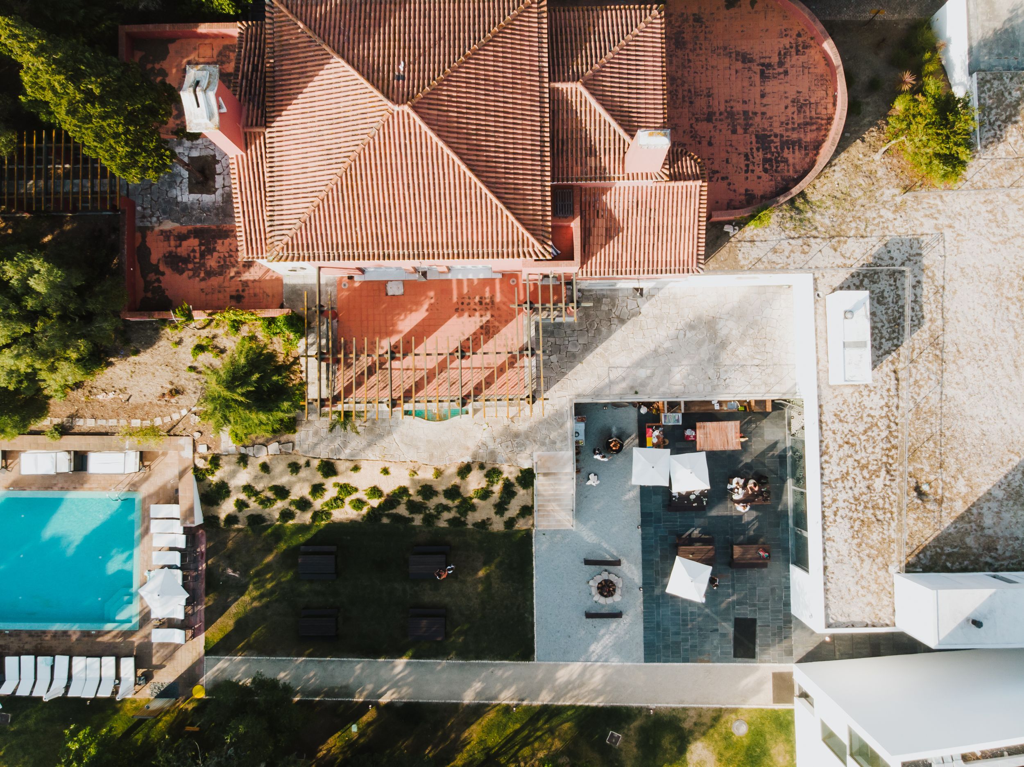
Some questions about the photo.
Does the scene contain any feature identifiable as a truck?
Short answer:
No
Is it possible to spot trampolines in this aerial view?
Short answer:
No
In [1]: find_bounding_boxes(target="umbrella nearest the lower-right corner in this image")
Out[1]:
[665,555,712,603]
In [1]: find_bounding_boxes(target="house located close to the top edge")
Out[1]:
[182,0,716,290]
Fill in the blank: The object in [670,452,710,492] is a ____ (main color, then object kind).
white umbrella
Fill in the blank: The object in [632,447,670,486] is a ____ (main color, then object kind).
white umbrella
